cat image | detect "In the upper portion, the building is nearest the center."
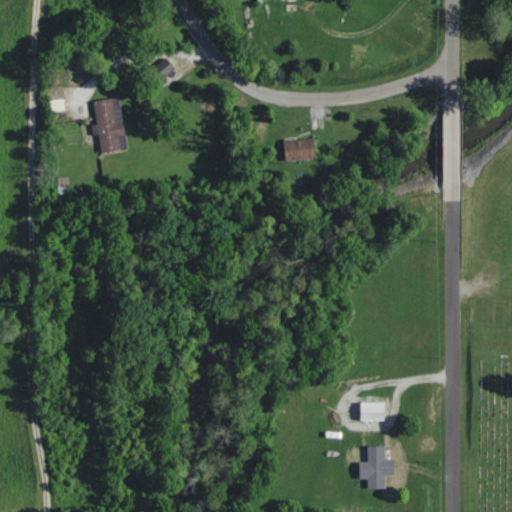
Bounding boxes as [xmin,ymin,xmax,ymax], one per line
[284,138,316,163]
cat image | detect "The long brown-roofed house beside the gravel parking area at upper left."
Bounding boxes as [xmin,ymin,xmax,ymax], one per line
[94,100,127,156]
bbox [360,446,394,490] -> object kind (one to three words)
house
